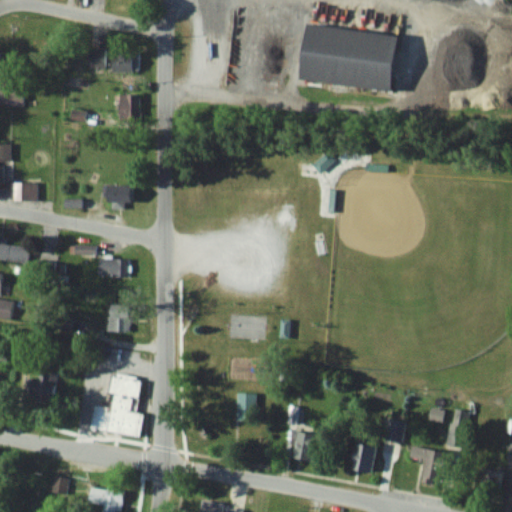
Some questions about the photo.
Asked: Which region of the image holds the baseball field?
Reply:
right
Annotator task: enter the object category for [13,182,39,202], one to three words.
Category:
shed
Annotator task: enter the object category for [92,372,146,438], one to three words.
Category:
building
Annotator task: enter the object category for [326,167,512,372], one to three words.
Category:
baseball field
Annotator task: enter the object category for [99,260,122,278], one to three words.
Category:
house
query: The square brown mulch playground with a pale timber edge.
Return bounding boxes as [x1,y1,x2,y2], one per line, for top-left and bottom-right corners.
[230,358,258,381]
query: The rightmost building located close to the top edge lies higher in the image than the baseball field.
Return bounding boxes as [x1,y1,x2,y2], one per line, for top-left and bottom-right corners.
[300,26,401,90]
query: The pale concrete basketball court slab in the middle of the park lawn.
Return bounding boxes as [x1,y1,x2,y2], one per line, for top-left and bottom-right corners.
[230,316,267,340]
